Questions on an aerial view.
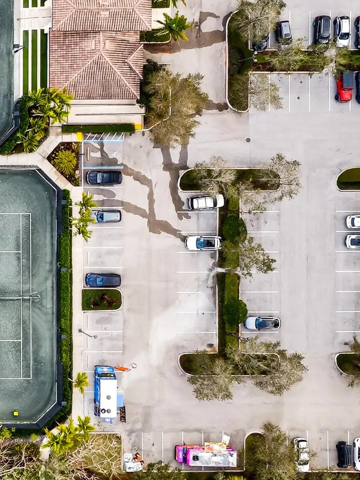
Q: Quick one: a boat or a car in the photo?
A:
car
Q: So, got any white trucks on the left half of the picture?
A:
Yes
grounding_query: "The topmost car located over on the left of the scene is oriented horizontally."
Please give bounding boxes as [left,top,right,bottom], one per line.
[86,170,124,186]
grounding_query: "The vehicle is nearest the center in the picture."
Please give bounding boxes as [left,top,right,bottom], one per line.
[185,236,222,251]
